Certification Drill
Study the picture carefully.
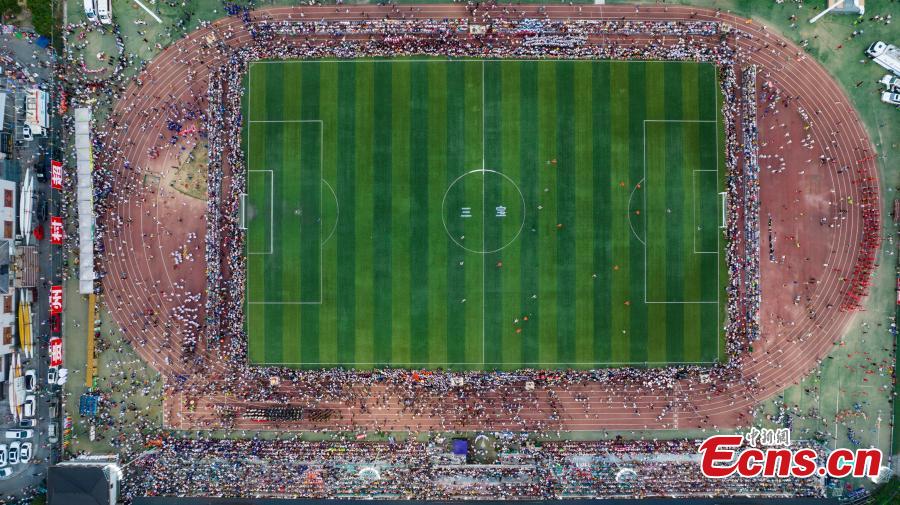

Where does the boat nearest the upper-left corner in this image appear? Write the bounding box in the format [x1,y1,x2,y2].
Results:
[20,167,38,244]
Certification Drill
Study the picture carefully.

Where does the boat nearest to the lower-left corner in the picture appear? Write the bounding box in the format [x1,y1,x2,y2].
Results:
[8,352,28,423]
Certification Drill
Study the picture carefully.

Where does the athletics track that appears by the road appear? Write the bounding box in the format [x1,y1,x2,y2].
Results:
[86,4,879,432]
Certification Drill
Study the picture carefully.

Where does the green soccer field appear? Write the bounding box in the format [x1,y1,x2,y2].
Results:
[244,56,725,369]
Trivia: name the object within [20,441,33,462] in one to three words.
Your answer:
vehicle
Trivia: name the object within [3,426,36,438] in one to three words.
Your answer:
vehicle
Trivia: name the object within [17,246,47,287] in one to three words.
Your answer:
building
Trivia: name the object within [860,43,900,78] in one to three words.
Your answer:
bus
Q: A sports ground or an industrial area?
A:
sports ground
